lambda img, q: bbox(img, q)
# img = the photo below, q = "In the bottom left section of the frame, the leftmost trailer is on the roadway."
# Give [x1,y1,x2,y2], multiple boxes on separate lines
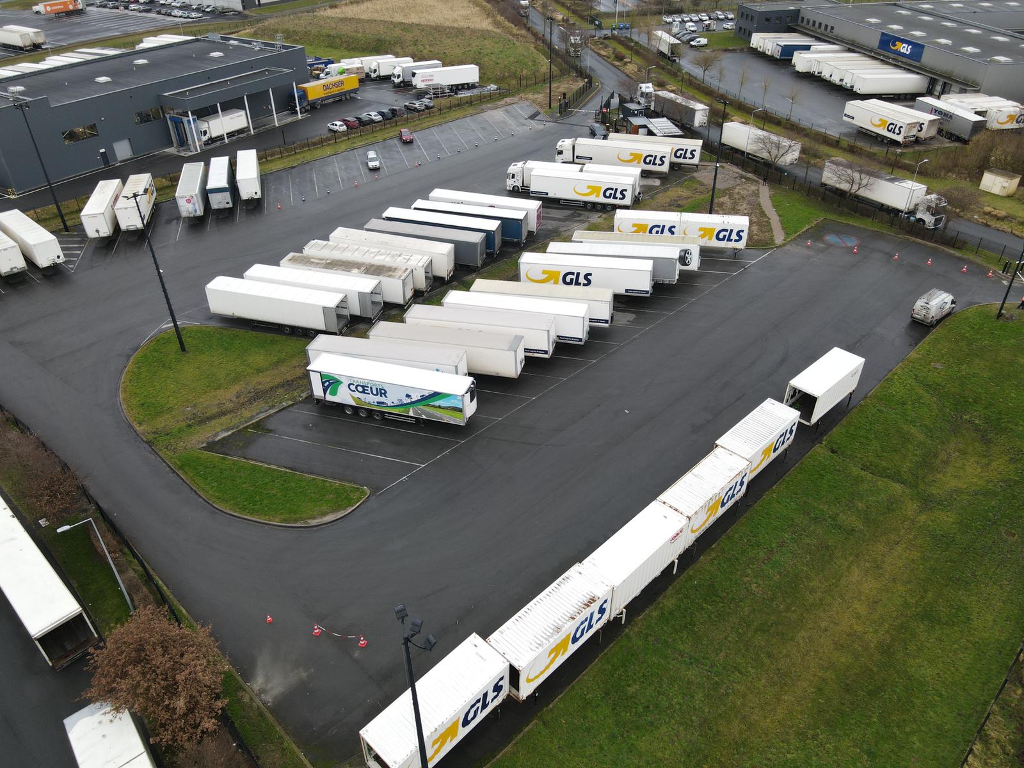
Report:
[0,497,100,675]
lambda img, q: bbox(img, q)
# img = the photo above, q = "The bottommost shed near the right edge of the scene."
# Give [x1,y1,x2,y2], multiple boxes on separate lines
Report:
[980,161,1024,196]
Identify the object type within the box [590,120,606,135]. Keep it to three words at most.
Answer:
car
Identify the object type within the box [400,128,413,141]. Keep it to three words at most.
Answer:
vehicle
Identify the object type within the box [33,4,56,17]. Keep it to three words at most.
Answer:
vehicle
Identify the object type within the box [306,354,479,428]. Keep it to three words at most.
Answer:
trailer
